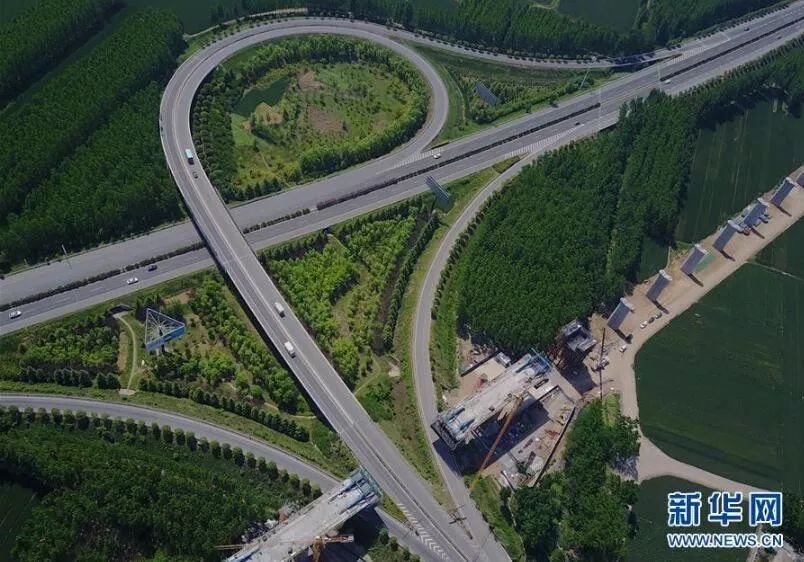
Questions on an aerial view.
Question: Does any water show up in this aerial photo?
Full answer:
No, the scene doesn't show any water.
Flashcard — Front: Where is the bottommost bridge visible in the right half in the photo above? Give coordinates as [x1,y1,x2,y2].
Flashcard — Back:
[426,343,555,456]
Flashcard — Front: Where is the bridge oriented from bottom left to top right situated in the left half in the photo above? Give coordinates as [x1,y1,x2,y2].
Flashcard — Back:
[207,460,376,562]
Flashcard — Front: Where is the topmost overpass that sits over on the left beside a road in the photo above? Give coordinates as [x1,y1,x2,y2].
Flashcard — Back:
[159,48,379,433]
